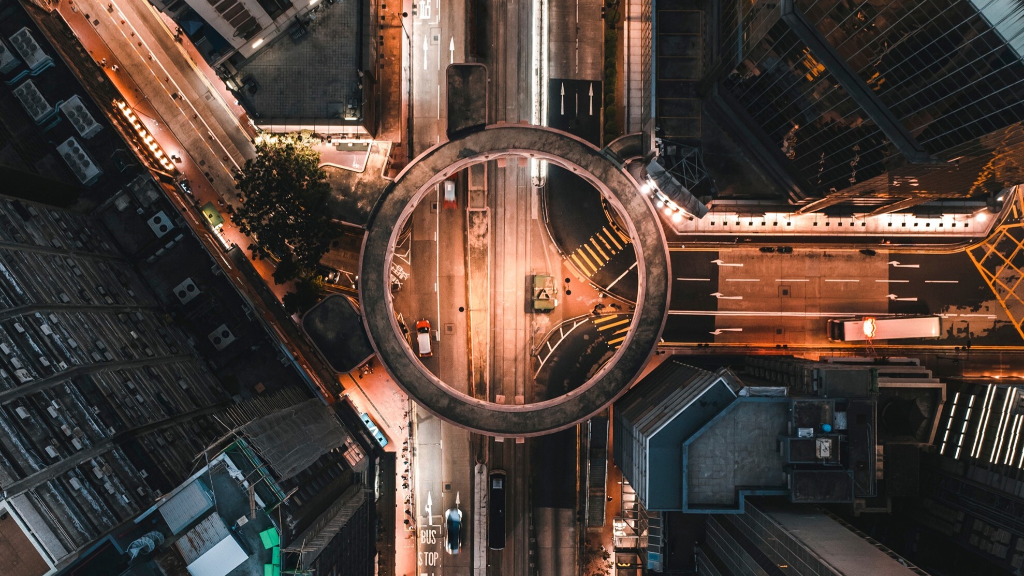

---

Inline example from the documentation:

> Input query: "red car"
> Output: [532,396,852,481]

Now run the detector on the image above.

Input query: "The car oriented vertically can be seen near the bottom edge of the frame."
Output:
[444,510,462,553]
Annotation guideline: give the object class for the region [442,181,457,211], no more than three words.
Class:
car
